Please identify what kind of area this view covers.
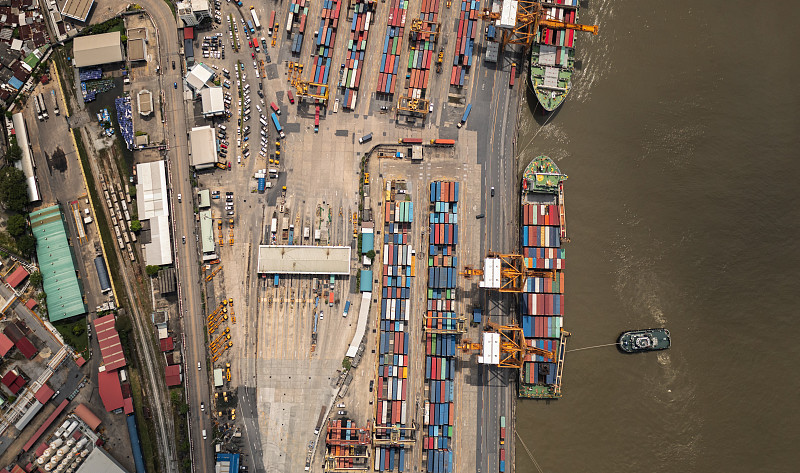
port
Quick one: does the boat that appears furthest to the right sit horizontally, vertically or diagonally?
horizontally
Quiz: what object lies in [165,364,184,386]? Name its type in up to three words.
house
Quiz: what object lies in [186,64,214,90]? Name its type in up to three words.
shed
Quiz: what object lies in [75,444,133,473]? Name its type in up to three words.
building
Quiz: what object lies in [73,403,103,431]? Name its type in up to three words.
building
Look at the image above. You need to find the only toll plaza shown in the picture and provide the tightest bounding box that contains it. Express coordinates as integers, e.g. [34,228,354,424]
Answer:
[257,245,357,276]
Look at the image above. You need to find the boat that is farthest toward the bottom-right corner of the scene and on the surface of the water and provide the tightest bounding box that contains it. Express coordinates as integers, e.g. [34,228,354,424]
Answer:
[618,328,670,353]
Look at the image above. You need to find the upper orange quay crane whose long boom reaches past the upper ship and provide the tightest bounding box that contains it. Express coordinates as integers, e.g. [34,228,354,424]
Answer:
[475,0,598,54]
